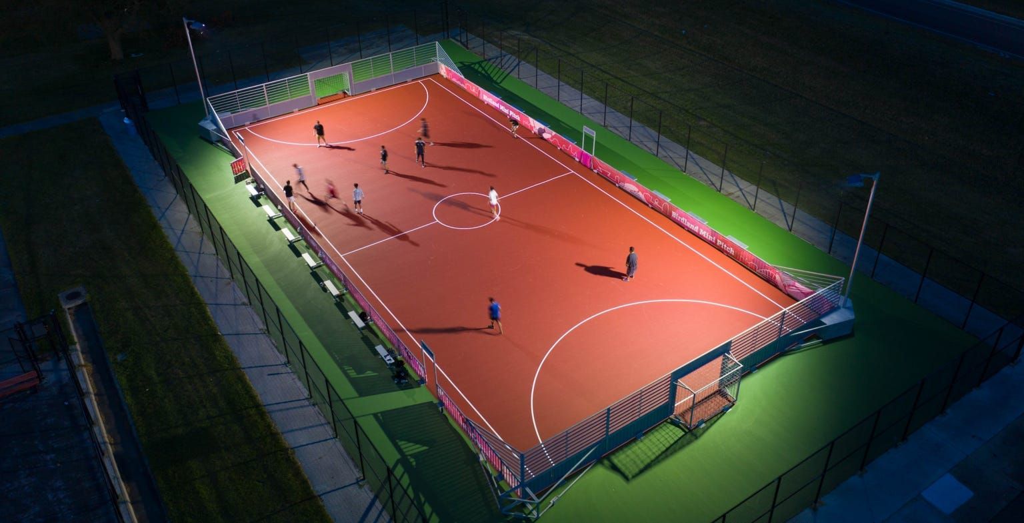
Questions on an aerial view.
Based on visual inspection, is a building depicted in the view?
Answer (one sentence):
No, the picture doesn't show any building.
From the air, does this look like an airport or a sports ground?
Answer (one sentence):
It's a sports ground.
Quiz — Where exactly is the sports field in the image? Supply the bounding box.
[220,73,819,506]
